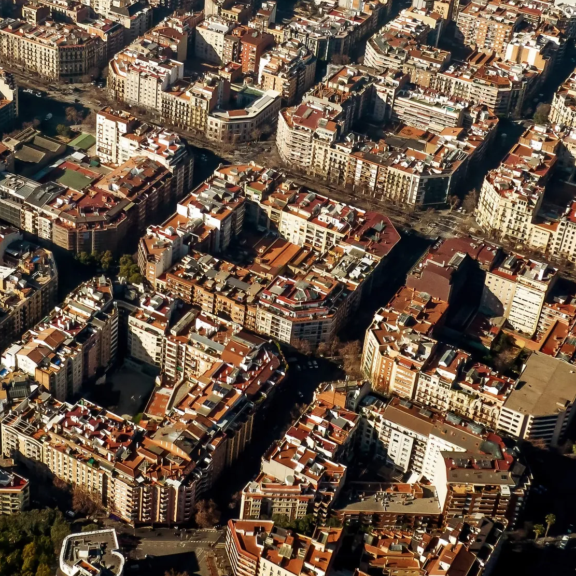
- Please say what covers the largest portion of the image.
buildings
